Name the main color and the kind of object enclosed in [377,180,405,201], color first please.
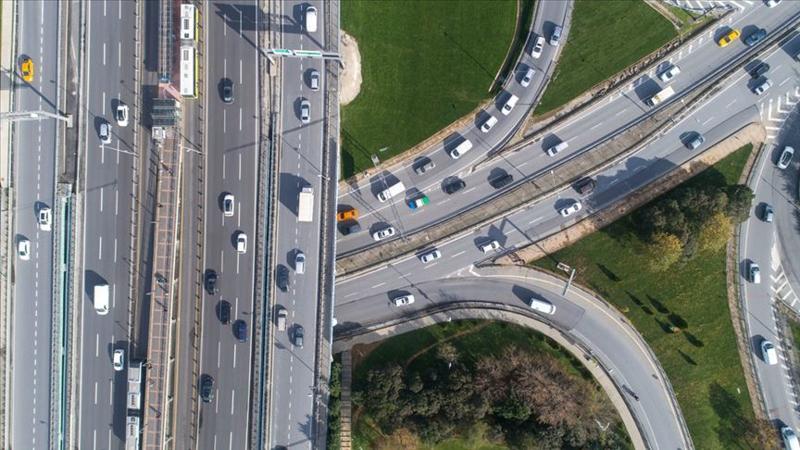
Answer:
white vehicle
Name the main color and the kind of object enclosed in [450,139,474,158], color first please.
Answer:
white vehicle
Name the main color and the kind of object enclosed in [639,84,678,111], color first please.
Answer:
white truck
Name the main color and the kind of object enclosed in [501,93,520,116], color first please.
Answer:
white car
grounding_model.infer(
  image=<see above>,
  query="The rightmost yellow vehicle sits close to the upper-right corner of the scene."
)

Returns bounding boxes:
[717,30,740,46]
